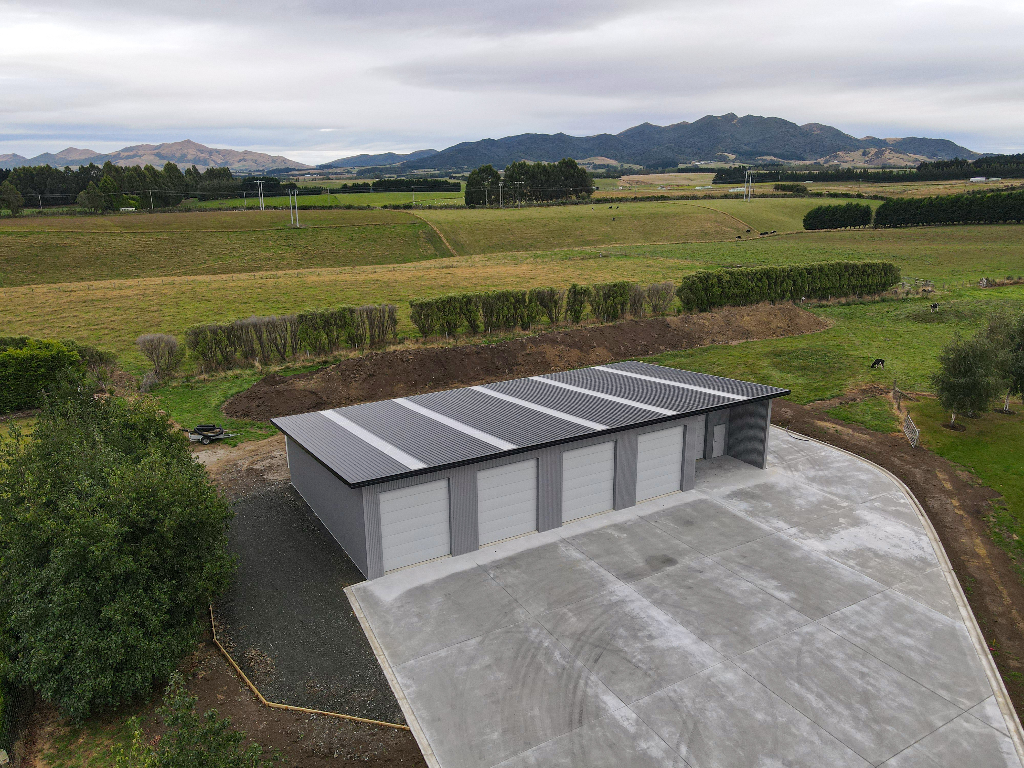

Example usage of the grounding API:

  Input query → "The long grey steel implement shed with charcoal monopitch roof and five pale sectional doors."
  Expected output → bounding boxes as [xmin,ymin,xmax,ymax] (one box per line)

[270,360,792,581]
